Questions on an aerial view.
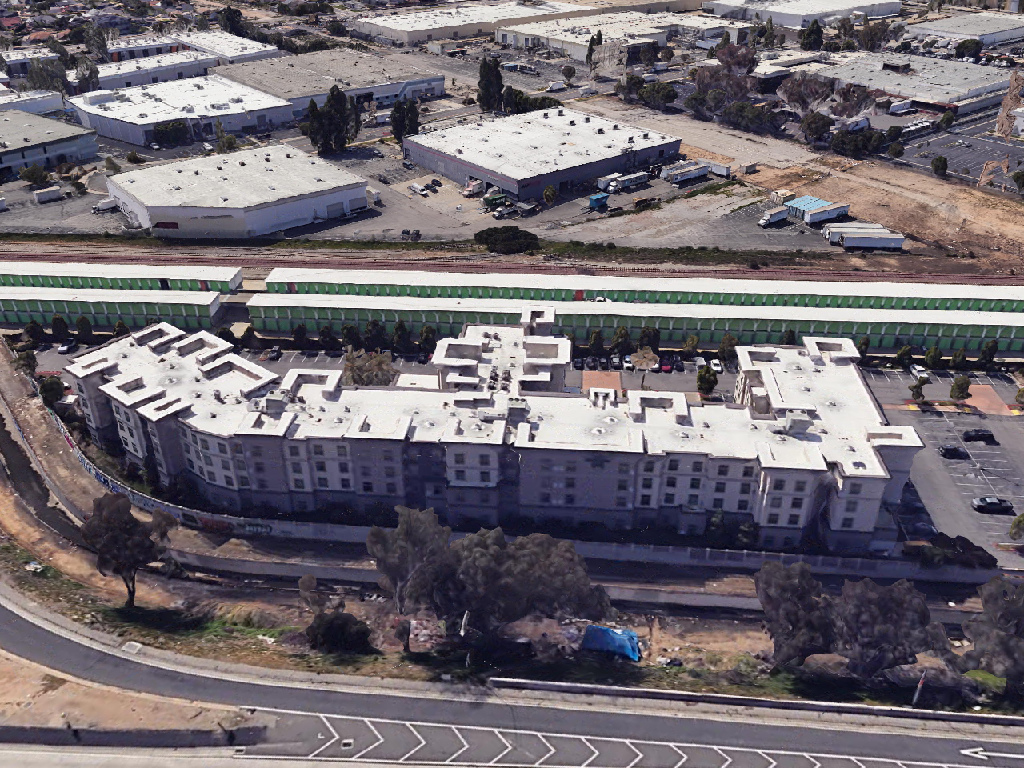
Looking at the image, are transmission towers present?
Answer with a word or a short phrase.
Yes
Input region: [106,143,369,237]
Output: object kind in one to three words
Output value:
building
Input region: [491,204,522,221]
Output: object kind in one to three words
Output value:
vehicle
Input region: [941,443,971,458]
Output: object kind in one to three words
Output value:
car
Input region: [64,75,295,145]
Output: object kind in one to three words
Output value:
building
